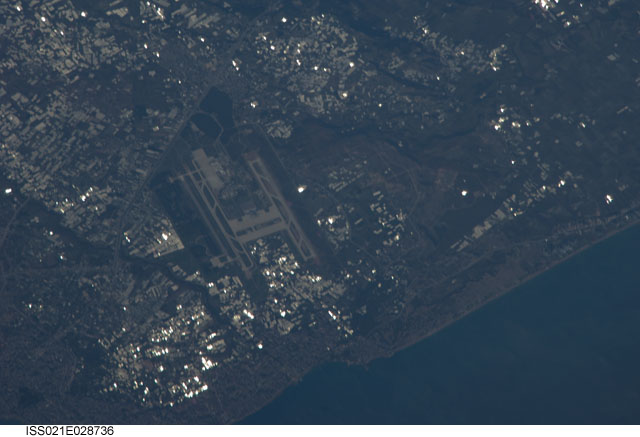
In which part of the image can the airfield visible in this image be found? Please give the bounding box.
[166,144,326,278]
